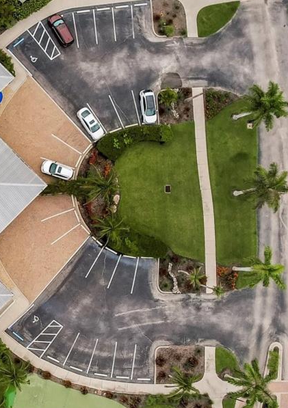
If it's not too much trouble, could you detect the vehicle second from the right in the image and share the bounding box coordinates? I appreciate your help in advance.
[78,106,105,140]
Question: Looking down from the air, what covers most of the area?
paved ground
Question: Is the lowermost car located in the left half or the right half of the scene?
left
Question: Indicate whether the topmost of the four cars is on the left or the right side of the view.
left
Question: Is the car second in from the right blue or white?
white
